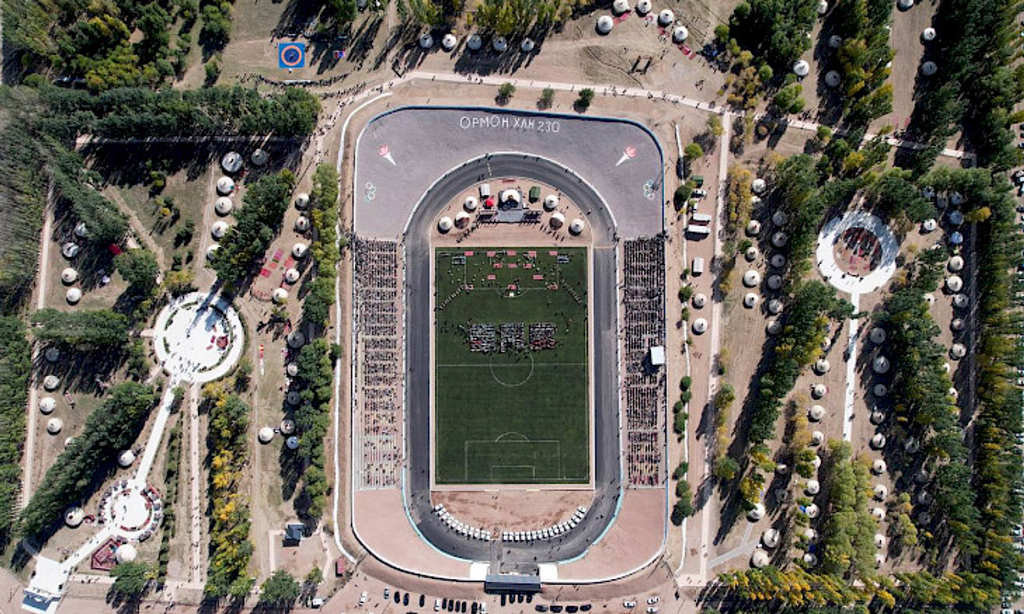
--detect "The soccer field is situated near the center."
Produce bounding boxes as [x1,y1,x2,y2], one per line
[430,245,594,490]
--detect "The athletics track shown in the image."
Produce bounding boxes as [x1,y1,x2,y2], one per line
[405,154,621,565]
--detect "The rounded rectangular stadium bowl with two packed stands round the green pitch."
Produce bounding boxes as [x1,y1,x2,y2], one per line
[352,106,668,582]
